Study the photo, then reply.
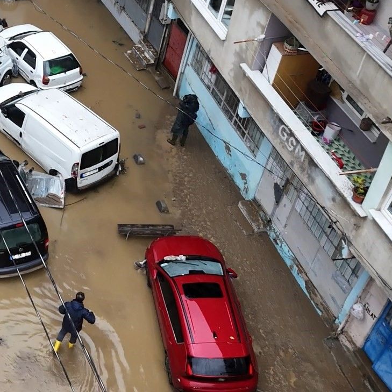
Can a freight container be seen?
No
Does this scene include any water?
Yes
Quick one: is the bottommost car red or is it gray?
red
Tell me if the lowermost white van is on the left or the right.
left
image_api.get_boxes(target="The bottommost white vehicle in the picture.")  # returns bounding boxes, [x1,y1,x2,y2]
[0,86,119,189]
